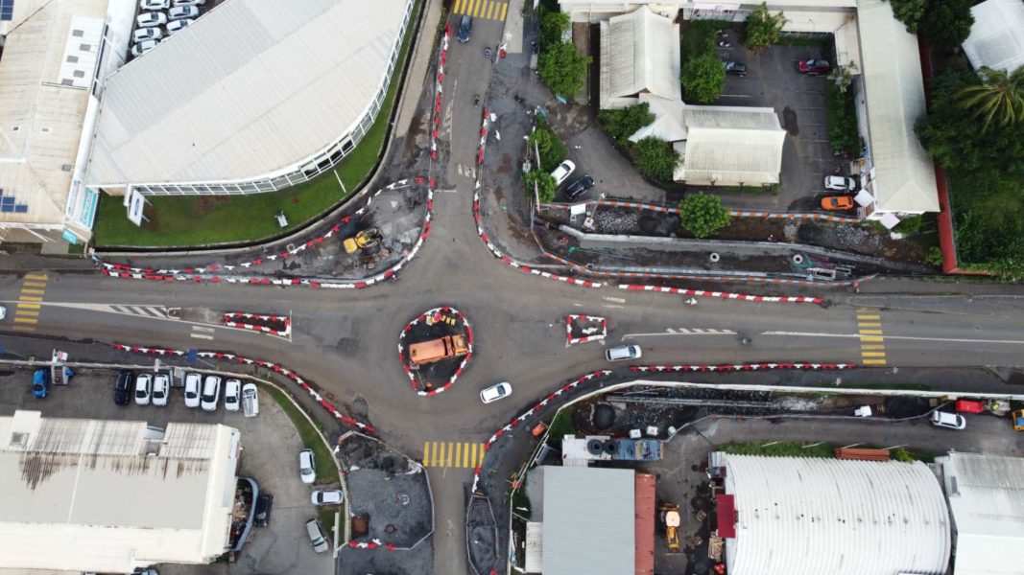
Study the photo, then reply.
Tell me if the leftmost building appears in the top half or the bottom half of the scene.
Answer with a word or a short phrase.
top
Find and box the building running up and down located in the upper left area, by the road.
[0,0,109,242]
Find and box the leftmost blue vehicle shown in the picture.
[30,369,49,400]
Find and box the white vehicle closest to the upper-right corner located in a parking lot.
[824,175,856,191]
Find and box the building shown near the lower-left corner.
[0,411,242,573]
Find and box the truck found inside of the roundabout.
[407,331,468,369]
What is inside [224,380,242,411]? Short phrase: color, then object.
white car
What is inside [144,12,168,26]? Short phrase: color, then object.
white car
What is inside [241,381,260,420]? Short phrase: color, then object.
white vehicle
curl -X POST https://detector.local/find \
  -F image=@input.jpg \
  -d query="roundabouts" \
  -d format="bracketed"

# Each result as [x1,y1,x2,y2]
[400,308,470,394]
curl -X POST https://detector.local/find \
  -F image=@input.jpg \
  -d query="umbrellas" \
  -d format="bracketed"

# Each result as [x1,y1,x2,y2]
[853,188,872,208]
[878,212,900,231]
